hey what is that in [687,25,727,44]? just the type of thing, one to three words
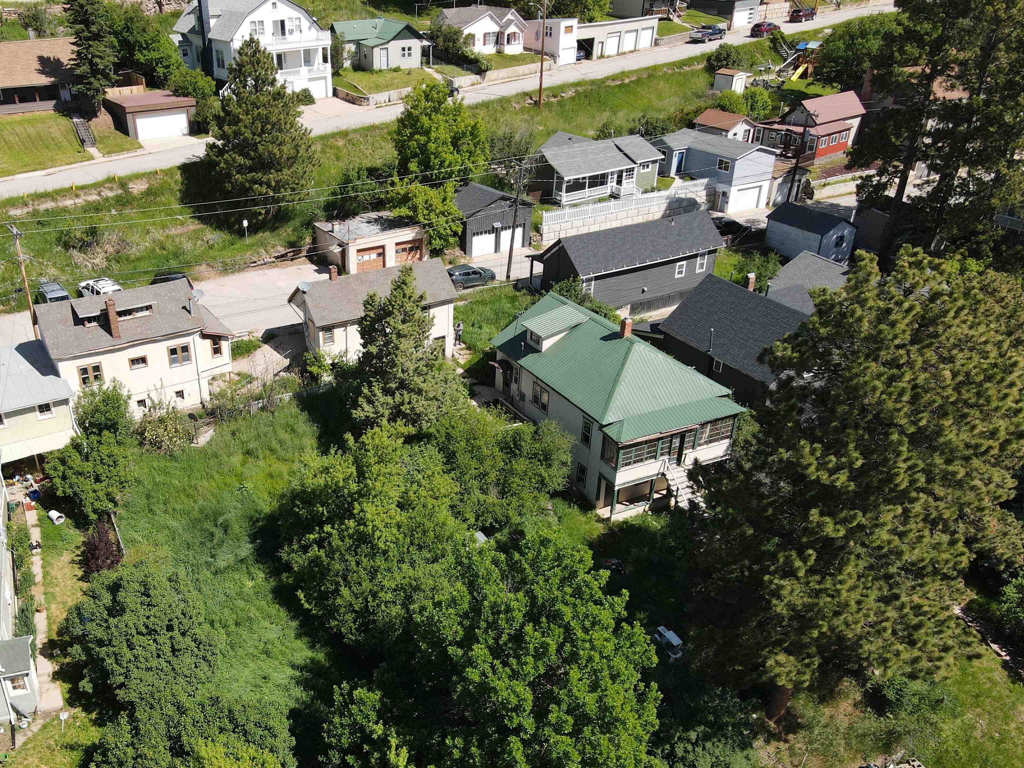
vehicle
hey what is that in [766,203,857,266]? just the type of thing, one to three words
shed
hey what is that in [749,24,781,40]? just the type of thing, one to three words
car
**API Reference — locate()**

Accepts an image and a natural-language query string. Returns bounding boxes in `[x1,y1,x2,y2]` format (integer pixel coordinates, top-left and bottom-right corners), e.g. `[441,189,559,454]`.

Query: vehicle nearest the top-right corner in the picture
[789,8,816,22]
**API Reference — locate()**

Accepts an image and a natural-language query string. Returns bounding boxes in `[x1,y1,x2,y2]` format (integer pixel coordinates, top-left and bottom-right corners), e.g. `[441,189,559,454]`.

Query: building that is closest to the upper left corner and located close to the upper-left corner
[0,43,108,126]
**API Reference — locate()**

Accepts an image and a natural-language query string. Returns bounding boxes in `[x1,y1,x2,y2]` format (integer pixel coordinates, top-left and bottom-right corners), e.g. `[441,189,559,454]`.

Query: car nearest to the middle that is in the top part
[446,263,502,291]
